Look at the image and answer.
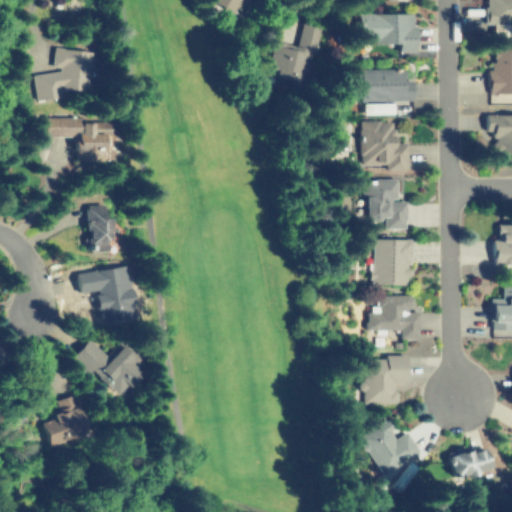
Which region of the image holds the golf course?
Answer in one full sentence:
Look in the center portion of the view to spot the golf course.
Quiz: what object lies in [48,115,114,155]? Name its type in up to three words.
house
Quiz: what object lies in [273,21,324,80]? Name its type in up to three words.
house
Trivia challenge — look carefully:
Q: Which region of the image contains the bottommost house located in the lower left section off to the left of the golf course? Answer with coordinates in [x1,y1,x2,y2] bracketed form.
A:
[43,396,90,448]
